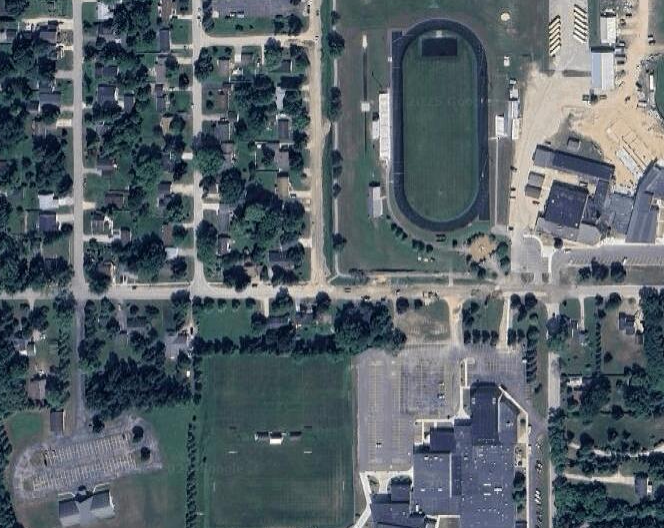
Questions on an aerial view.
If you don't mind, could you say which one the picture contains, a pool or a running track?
running track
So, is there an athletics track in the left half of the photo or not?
No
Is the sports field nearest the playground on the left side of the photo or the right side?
right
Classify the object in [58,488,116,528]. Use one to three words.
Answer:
building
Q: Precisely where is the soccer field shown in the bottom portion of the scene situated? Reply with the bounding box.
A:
[214,366,350,528]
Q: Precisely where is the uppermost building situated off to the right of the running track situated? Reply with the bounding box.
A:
[601,17,617,44]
